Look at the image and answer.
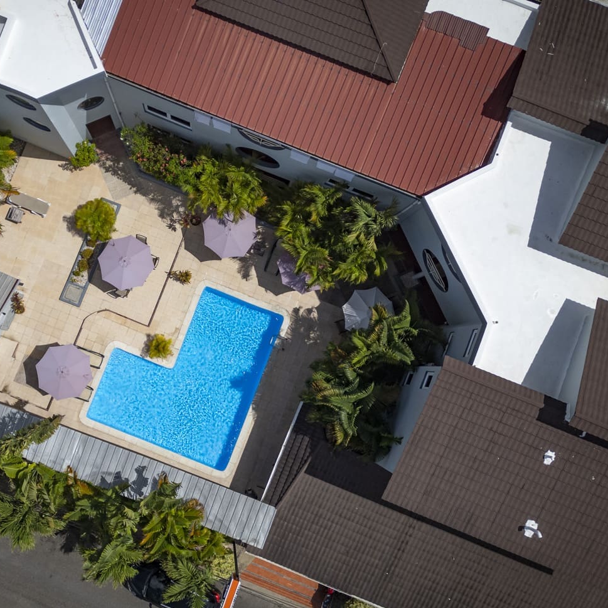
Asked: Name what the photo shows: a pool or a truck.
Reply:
pool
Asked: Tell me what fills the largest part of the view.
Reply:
buildings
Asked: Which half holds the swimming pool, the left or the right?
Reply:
left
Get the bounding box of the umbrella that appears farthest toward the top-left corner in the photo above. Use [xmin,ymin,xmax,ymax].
[99,236,158,294]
